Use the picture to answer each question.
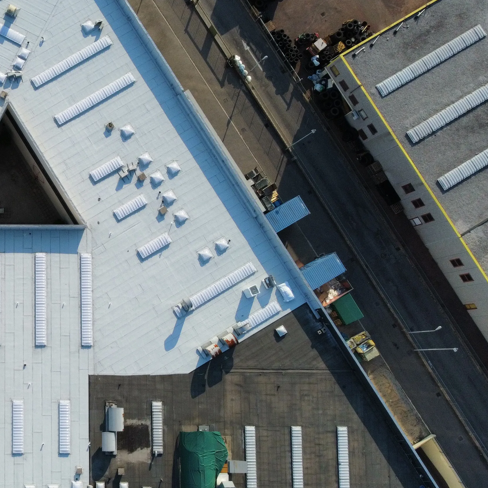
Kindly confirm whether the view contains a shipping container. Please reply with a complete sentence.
Yes, you can see a shipping container in this photo.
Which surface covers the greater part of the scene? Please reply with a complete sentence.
The largest share of the image is taken up by buildings.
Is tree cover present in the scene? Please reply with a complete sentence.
No, tree cover can't be seen anywhere here.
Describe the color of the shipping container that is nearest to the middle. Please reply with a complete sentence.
The shipping container that is nearest to the middle looks blue in the image.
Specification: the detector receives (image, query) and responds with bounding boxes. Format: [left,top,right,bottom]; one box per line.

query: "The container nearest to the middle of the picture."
[261,195,310,234]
